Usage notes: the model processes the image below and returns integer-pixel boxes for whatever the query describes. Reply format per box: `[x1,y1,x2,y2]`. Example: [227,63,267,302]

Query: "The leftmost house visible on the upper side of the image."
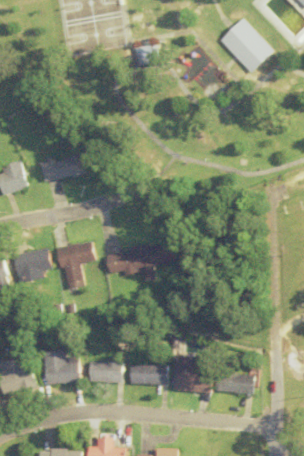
[0,164,30,194]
